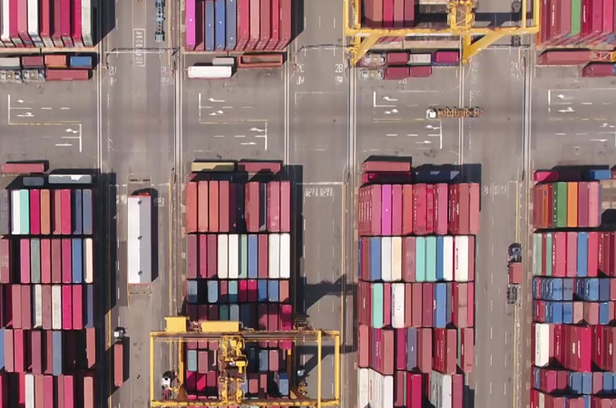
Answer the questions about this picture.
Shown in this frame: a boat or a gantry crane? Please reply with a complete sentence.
The one in the frame is a gantry crane.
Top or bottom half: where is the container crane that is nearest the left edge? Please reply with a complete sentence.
Seen from above, the container crane that is nearest the left edge lies in the bottom half of the view.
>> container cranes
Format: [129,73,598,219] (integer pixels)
[346,0,539,67]
[150,311,341,407]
